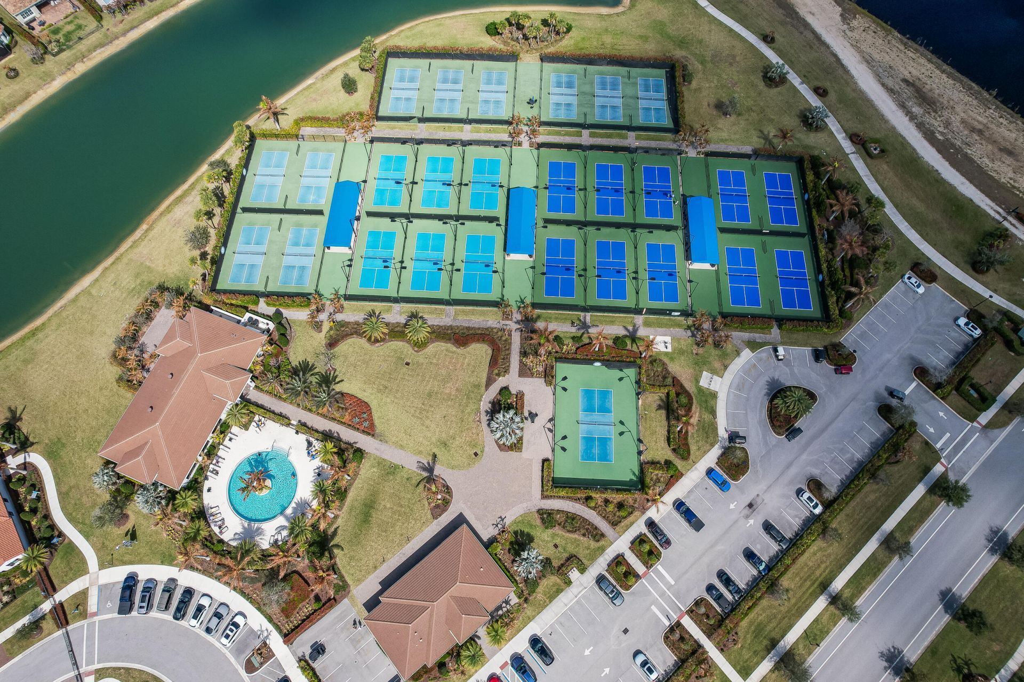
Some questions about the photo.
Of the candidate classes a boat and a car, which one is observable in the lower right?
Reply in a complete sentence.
You can see a car in the lower right.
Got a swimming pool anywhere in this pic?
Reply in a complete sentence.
Yes, this view includes a swimming pool.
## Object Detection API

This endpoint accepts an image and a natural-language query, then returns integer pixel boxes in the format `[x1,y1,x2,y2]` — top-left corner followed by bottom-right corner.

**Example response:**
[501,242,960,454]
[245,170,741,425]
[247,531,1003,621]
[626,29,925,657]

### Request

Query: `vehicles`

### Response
[189,594,213,629]
[674,499,705,532]
[529,635,555,667]
[704,582,735,616]
[953,317,983,339]
[716,569,745,601]
[219,612,247,648]
[705,467,732,493]
[743,547,769,576]
[173,587,197,621]
[727,435,748,444]
[833,365,855,375]
[774,348,786,361]
[632,650,660,682]
[135,579,158,614]
[155,576,179,613]
[900,274,925,296]
[784,427,806,441]
[204,603,230,637]
[812,350,827,363]
[118,576,139,614]
[646,518,672,549]
[511,653,538,682]
[597,574,623,606]
[309,641,328,662]
[797,488,824,516]
[887,389,909,400]
[762,520,791,550]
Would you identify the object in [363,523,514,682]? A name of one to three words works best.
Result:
building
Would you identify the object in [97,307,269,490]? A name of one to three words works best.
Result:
building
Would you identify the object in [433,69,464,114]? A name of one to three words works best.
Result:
sports court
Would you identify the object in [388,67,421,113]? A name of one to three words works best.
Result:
sports court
